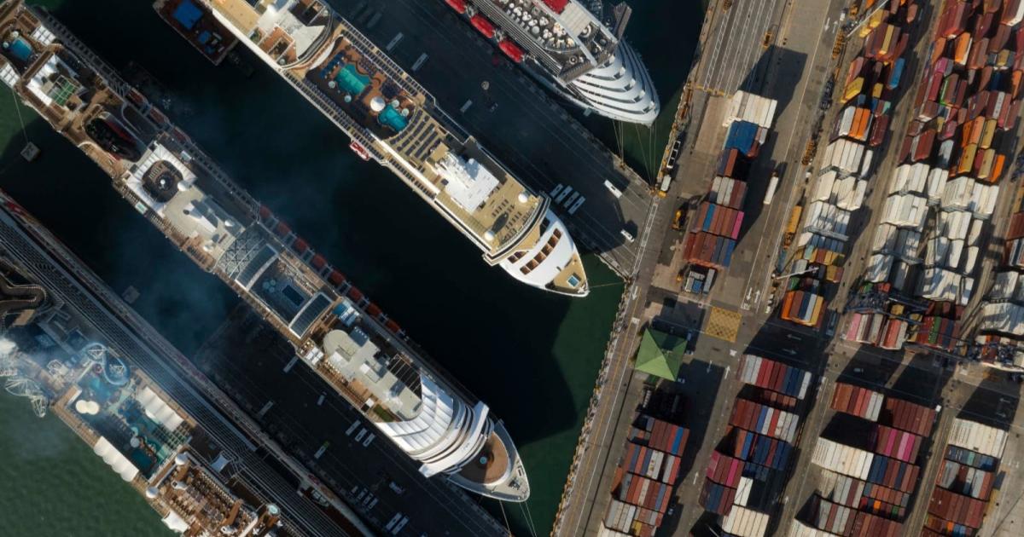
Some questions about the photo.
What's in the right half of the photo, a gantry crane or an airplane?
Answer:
gantry crane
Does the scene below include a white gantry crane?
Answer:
No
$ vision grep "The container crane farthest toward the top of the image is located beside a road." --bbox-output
[825,286,963,344]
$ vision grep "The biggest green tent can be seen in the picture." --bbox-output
[633,328,688,381]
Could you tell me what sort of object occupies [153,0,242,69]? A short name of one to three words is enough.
ship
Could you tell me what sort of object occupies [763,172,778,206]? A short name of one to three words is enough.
vehicle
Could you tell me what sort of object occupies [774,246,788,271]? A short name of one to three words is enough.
vehicle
